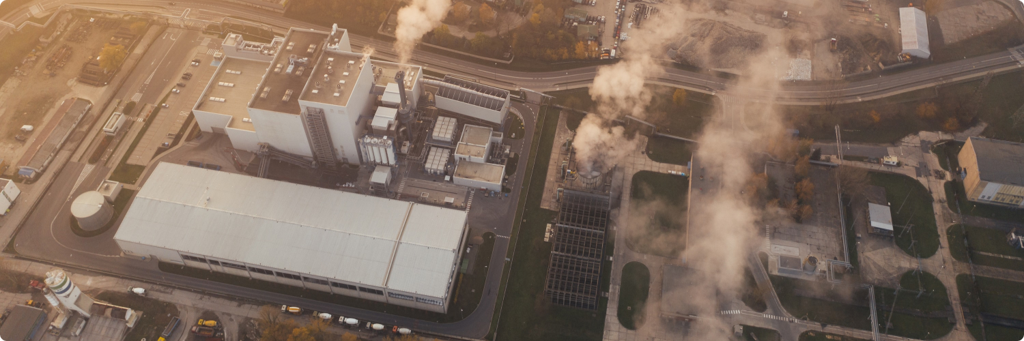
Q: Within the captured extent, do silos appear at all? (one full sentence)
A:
Yes, looking at the shot, I can spot a silo.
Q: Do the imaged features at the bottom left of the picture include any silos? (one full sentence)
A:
Yes, a silo is visible at the bottom left of the picture.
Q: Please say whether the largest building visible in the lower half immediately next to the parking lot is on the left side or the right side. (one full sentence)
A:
You can find the largest building visible in the lower half immediately next to the parking lot on the left side of the picture.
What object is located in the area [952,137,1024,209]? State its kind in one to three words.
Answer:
building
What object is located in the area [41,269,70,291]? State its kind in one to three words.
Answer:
silo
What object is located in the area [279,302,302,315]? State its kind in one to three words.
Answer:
vehicle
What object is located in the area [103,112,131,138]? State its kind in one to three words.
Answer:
house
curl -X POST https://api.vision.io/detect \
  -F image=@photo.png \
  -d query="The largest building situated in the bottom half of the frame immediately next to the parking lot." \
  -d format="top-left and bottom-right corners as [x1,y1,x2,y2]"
[113,161,469,314]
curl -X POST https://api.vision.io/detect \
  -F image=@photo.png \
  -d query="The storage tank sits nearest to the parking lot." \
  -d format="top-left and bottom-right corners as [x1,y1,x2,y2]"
[71,190,119,235]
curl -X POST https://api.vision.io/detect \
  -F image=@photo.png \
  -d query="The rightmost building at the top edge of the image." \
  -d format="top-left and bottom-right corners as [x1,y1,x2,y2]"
[892,4,933,62]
